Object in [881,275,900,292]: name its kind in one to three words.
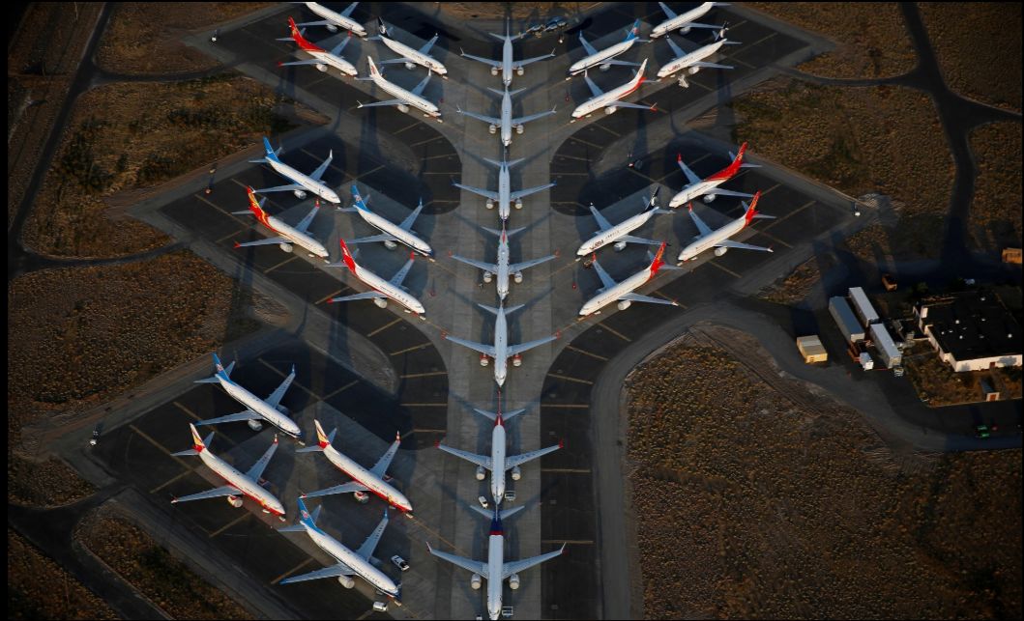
vehicle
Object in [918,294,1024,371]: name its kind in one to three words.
building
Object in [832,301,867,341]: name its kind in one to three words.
trailer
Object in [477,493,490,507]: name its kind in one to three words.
vehicle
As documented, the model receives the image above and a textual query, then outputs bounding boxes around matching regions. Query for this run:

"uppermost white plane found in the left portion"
[292,0,369,38]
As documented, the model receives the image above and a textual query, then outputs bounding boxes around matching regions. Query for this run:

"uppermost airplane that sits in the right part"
[650,0,730,38]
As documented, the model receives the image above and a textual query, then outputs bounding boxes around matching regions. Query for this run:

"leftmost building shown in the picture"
[799,338,830,363]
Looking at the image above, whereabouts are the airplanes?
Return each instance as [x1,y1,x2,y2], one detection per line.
[573,59,659,119]
[355,56,439,117]
[566,20,650,76]
[195,353,302,439]
[650,0,730,38]
[678,191,775,262]
[434,397,563,505]
[297,421,413,513]
[172,424,285,516]
[452,149,557,224]
[278,498,400,599]
[427,491,566,619]
[447,209,559,302]
[250,138,341,204]
[367,18,450,75]
[442,292,560,388]
[292,0,369,38]
[462,25,554,87]
[578,188,675,259]
[657,22,740,79]
[458,73,555,147]
[325,240,425,315]
[278,18,357,76]
[338,186,436,256]
[669,142,760,209]
[580,242,681,318]
[233,188,328,258]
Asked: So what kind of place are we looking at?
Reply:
airport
